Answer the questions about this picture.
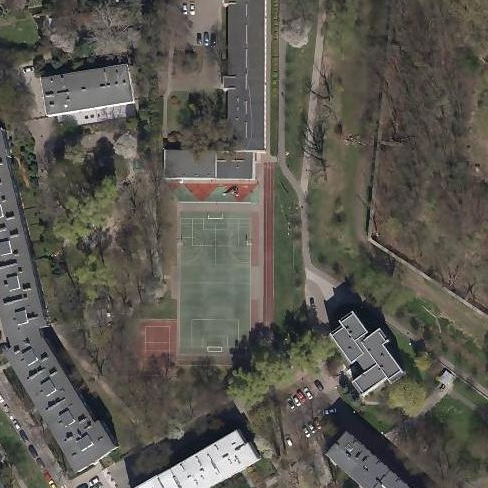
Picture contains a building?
Yes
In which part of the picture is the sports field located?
center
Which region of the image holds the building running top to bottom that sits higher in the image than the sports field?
top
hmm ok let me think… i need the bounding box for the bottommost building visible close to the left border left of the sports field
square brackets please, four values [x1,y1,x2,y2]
[0,127,115,476]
